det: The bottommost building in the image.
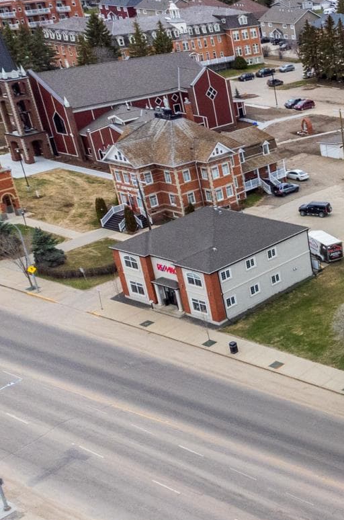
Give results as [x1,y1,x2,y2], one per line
[105,206,314,325]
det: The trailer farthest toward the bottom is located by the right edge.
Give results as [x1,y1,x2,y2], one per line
[302,228,341,259]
